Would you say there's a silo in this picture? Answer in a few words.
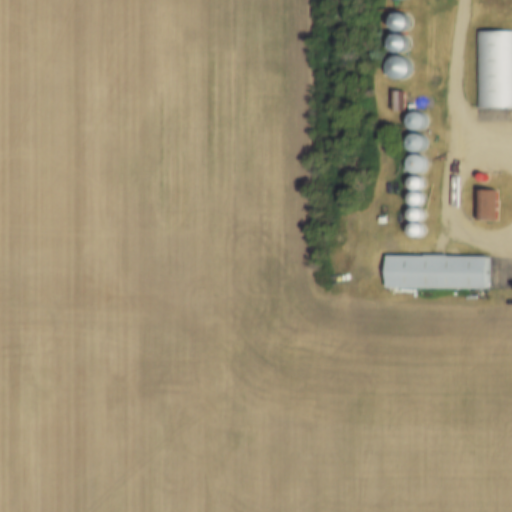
Yes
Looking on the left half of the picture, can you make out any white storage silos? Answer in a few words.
No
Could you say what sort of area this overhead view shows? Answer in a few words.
farmland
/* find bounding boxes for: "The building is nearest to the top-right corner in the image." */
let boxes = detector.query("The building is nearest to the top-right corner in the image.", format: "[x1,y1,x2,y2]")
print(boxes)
[478,30,512,108]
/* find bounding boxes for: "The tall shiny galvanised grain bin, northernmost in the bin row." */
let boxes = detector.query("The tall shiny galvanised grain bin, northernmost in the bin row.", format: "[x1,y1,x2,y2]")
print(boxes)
[387,12,414,32]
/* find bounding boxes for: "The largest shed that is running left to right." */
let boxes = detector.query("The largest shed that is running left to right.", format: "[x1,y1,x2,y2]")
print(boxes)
[384,254,490,290]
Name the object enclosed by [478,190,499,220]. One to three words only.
building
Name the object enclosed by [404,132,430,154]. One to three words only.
silo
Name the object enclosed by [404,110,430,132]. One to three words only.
silo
